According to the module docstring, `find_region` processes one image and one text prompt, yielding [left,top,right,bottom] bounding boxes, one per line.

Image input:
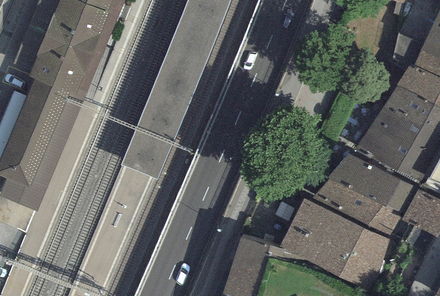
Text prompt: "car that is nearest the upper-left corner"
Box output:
[4,72,26,88]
